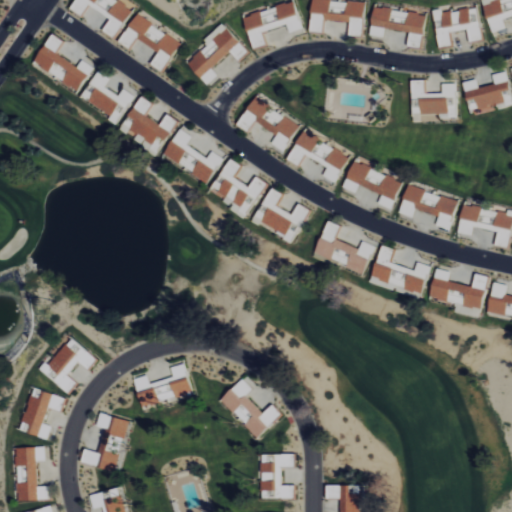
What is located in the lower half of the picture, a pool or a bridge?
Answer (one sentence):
The feature located in the lower half of the picture is a pool.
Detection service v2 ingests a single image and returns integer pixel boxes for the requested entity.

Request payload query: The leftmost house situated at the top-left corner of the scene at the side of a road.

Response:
[33,34,91,92]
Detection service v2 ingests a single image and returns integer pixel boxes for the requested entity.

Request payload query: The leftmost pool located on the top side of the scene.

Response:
[326,78,374,123]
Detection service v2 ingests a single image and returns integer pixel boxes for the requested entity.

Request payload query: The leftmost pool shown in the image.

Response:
[166,471,211,512]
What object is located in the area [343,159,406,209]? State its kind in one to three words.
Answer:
house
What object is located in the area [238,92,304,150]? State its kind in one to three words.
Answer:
house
